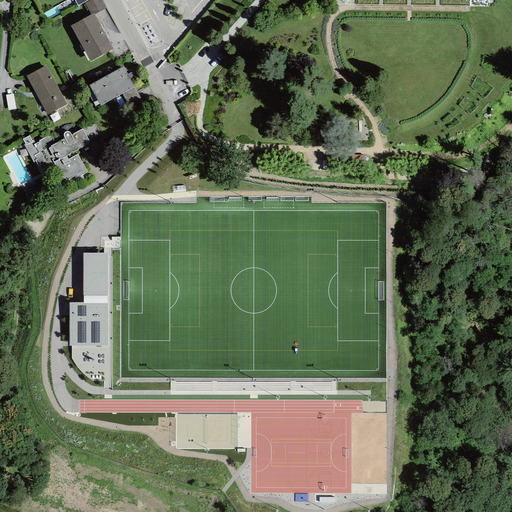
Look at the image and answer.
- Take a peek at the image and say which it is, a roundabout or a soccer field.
soccer field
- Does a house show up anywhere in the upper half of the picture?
Yes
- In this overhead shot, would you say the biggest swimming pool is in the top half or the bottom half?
top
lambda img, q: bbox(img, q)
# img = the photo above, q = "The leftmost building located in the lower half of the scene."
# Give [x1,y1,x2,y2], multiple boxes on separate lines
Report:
[70,253,109,384]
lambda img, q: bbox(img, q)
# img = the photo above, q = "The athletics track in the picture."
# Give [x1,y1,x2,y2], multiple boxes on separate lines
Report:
[80,400,363,412]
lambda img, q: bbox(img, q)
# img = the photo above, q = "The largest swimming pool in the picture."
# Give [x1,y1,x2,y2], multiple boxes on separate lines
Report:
[4,150,33,188]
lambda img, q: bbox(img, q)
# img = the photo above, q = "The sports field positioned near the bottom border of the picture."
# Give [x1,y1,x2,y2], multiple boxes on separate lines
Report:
[352,412,386,493]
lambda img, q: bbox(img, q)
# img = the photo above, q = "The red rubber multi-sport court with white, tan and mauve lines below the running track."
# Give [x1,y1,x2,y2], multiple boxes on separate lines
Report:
[252,412,352,493]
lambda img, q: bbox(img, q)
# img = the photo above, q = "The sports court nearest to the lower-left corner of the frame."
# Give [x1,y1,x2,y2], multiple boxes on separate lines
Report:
[176,412,238,448]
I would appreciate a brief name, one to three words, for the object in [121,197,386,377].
soccer field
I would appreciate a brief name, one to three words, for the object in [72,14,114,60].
house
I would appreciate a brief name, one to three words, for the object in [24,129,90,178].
house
